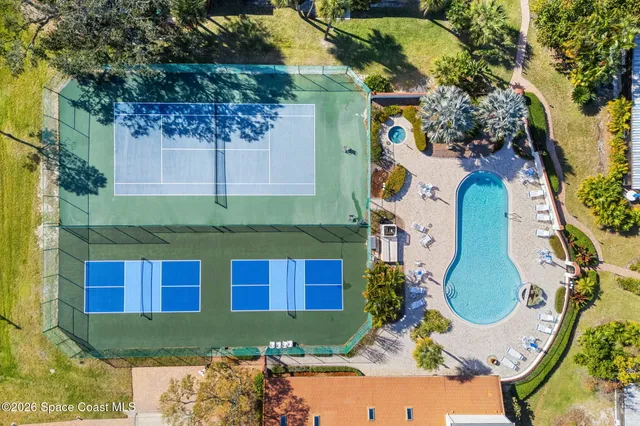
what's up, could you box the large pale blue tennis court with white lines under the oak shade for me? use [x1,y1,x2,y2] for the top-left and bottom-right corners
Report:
[114,102,315,196]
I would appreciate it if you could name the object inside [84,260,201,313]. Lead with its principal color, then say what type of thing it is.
blue sports court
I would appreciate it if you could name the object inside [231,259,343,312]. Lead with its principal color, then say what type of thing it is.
blue sports court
